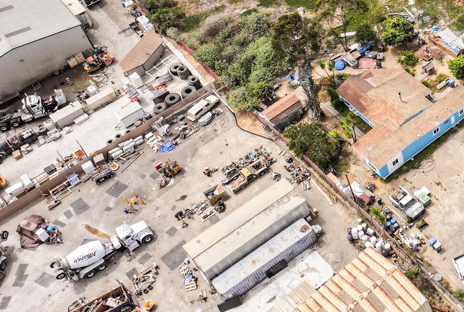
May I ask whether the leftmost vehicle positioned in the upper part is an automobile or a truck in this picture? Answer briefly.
truck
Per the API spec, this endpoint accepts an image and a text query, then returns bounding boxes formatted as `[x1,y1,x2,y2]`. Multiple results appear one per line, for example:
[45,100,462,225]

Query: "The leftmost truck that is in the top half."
[2,88,65,136]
